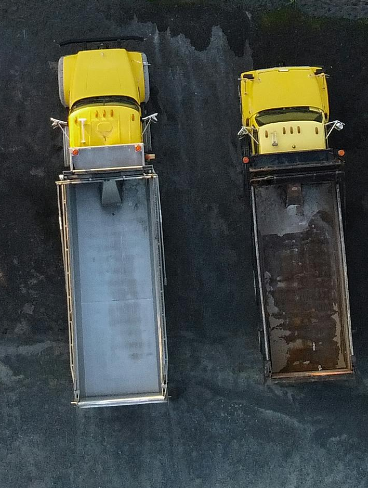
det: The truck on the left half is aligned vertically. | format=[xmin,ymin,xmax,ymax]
[50,32,173,410]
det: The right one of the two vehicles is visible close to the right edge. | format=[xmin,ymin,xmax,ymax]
[232,64,359,384]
